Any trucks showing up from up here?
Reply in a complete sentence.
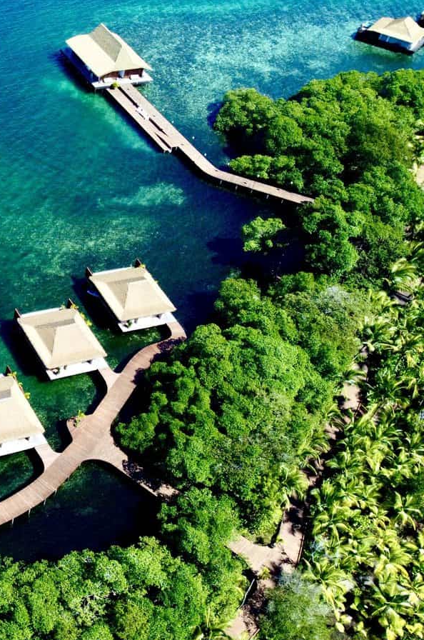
No, no truck is visible in the view.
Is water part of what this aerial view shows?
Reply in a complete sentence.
Yes, water can be seen from above here.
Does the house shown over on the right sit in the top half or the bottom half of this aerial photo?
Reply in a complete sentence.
The house shown over on the right sits in the top half of the picture.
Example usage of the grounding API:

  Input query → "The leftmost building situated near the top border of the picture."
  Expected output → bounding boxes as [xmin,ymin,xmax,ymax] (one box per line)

[64,25,154,94]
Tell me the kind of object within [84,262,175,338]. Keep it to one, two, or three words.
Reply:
house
